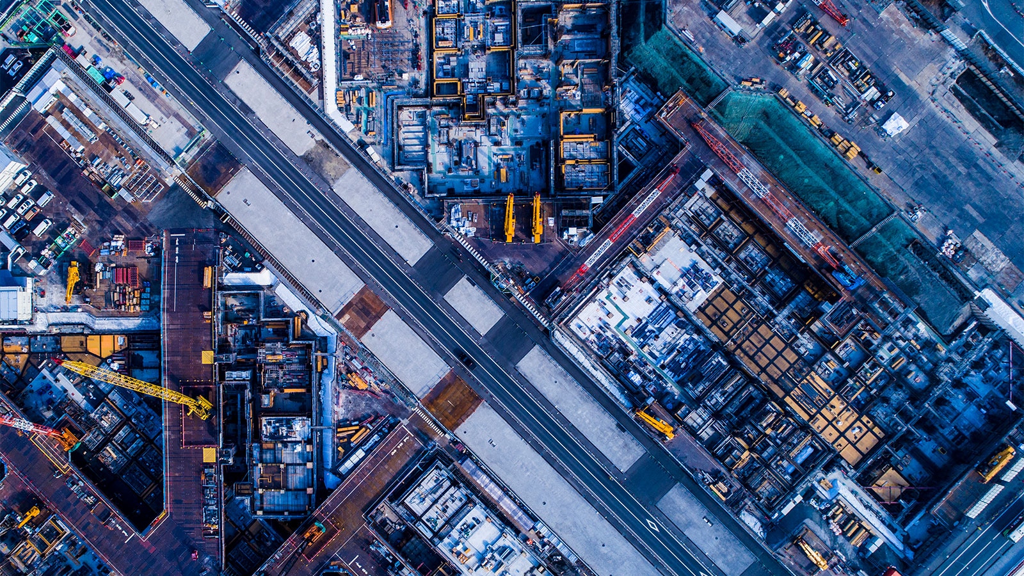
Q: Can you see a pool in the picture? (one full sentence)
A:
No, I can see no pool in this picture.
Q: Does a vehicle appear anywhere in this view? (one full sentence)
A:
Yes, you can see a vehicle in this photo.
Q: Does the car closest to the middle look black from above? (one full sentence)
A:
Yes, black is the color of the car closest to the middle.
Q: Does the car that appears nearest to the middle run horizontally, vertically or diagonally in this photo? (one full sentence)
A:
Seen from above, the car that appears nearest to the middle lies diagonally.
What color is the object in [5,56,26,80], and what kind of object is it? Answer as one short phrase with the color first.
blue car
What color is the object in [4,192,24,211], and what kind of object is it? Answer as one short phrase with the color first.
white vehicle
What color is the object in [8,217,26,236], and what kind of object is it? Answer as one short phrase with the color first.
blue car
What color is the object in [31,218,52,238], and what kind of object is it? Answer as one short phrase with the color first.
white vehicle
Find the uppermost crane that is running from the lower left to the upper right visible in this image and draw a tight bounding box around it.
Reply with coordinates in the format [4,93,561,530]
[529,166,680,319]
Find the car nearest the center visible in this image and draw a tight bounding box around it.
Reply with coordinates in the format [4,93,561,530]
[454,350,476,372]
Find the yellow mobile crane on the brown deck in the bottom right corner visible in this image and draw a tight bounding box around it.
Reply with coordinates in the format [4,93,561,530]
[981,449,1019,482]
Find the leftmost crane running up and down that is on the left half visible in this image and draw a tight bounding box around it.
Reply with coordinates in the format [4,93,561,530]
[61,261,83,305]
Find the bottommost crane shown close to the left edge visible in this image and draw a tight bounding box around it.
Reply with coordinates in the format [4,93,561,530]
[0,416,90,457]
